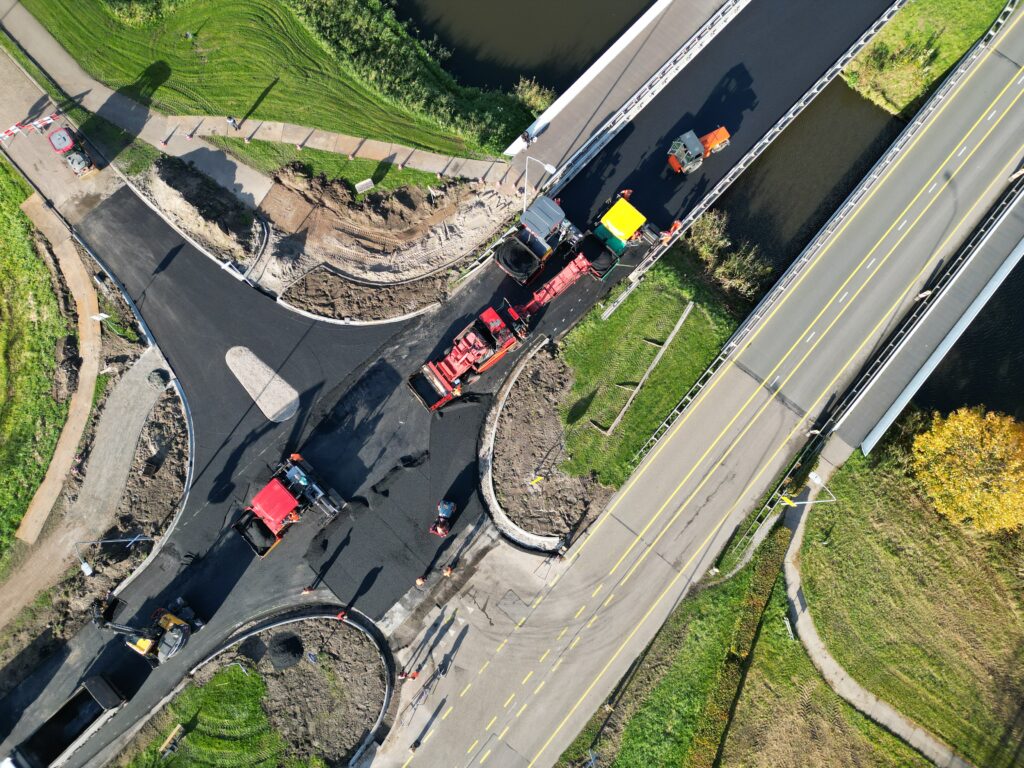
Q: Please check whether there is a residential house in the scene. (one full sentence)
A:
No, I find no residential house anywhere in the image.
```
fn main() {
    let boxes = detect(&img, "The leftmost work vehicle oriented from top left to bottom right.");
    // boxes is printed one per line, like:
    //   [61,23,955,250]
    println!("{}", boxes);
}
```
[47,129,103,185]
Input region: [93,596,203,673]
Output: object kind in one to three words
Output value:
work vehicle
